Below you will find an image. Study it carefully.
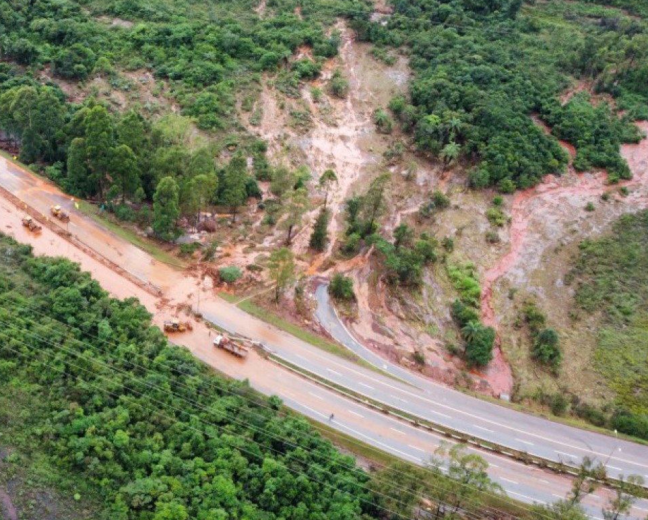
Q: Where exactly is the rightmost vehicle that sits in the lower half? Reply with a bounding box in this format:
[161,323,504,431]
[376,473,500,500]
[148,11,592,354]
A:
[212,333,248,357]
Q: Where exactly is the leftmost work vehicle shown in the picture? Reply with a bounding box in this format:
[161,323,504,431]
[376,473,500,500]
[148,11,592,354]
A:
[20,214,47,237]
